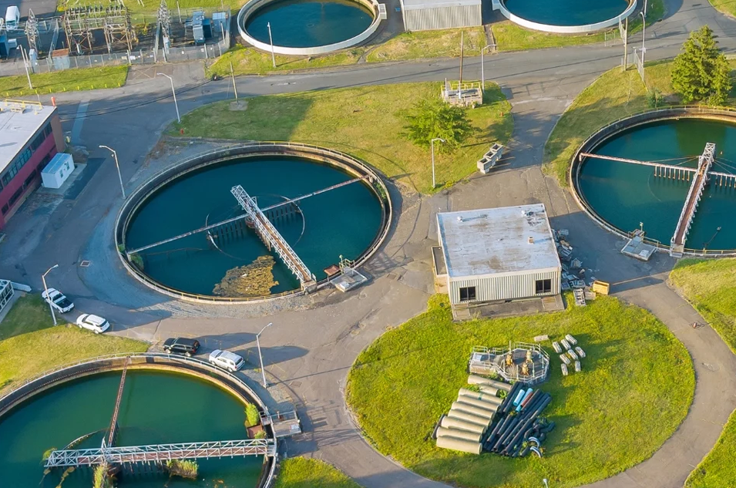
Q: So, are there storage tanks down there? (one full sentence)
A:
Yes, the frame does contain a storage tank.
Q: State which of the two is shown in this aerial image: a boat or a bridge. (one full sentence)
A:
I can see a bridge in this picture.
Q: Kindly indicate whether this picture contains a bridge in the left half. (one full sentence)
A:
Yes, there is a bridge in the left half.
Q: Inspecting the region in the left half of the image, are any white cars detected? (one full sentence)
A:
Yes, a white car can be seen in the left half of the image.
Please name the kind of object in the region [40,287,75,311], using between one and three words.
truck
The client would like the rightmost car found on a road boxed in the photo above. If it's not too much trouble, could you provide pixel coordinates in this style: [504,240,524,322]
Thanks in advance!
[205,349,245,371]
